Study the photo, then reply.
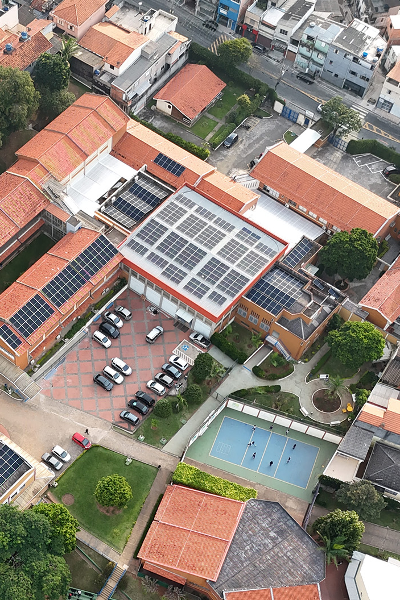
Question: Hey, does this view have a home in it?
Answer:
Yes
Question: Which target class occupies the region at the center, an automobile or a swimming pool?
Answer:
automobile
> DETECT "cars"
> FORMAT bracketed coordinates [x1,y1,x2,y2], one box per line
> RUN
[99,321,120,338]
[161,364,183,380]
[94,375,113,391]
[146,380,168,398]
[223,133,239,148]
[188,333,213,350]
[120,411,141,427]
[103,312,124,328]
[71,434,92,450]
[154,374,176,389]
[114,305,133,322]
[297,71,314,85]
[40,452,64,470]
[202,21,220,32]
[50,445,73,464]
[93,332,112,348]
[128,399,150,417]
[146,326,164,344]
[313,102,330,115]
[111,355,132,376]
[134,390,157,408]
[169,356,190,372]
[103,365,123,385]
